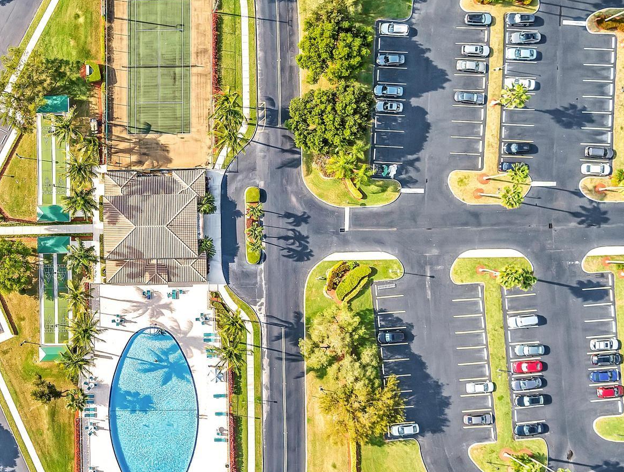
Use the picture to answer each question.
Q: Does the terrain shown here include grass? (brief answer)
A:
Yes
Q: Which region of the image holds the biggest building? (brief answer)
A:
left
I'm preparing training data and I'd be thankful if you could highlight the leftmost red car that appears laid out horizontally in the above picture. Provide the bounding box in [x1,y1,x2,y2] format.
[512,360,542,374]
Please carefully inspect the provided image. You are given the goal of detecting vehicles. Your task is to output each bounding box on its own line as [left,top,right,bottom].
[463,13,492,26]
[511,31,540,45]
[390,422,420,436]
[507,47,537,61]
[514,344,544,357]
[580,163,610,175]
[590,352,620,365]
[461,44,489,58]
[508,315,537,328]
[505,12,534,27]
[513,422,543,437]
[457,59,485,72]
[464,381,495,394]
[590,369,619,382]
[380,22,407,36]
[514,394,543,407]
[375,52,405,66]
[595,386,624,398]
[589,337,619,350]
[90,120,98,133]
[585,146,613,159]
[502,143,530,155]
[505,77,534,91]
[498,161,528,173]
[454,92,483,104]
[512,360,542,374]
[373,83,403,97]
[511,377,542,391]
[463,412,493,426]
